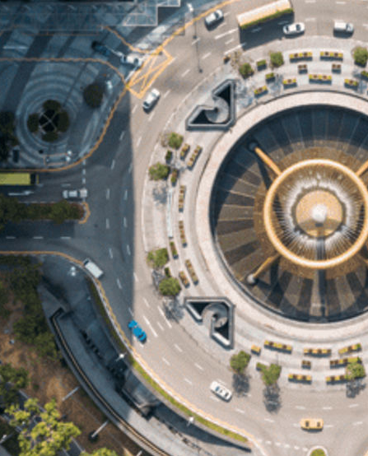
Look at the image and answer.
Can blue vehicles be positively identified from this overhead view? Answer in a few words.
Yes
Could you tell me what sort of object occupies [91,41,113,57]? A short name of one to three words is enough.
car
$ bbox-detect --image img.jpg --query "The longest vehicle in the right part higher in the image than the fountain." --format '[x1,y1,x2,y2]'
[232,1,292,32]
